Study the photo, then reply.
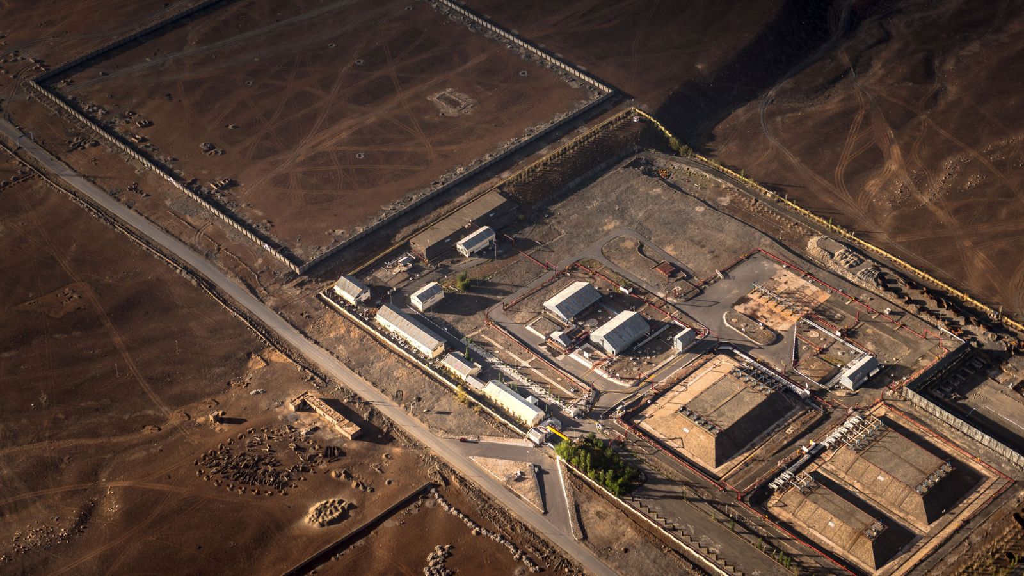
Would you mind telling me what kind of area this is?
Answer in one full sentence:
This image shows an industrial area.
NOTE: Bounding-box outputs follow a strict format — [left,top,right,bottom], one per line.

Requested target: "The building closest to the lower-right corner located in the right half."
[840,355,880,390]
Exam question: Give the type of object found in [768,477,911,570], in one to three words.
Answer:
storage tank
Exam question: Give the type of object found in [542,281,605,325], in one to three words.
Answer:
building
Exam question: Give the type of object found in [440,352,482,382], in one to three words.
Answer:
building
